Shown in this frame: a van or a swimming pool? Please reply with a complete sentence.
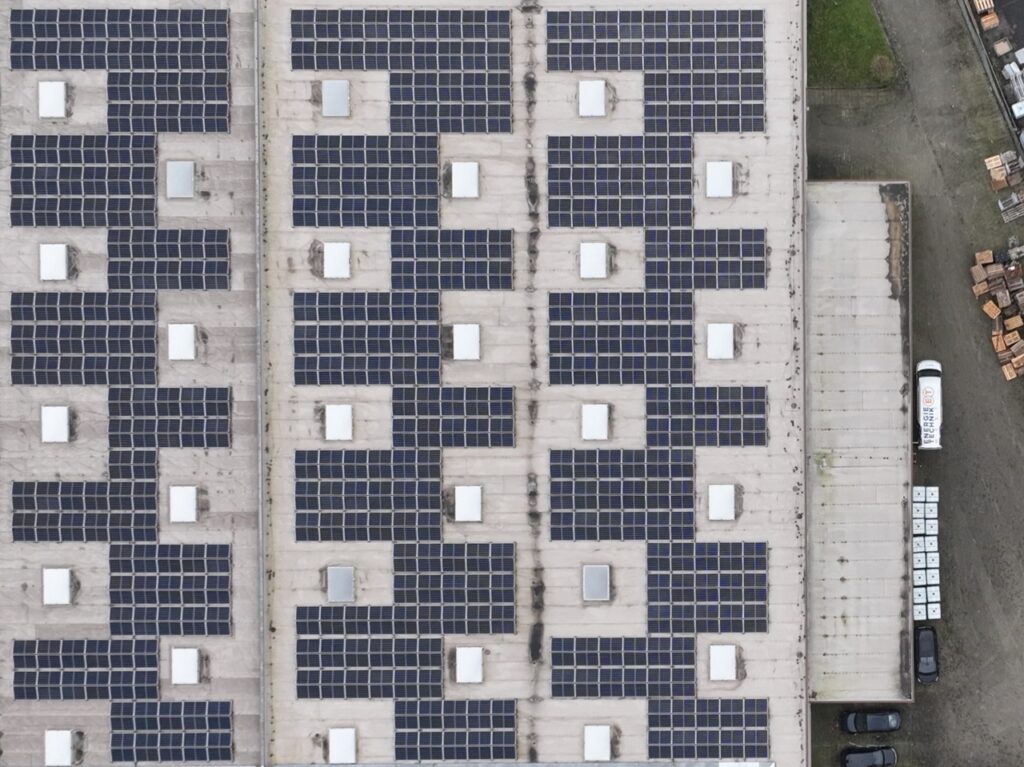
It is a van that can be seen here.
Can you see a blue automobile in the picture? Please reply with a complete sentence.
No, the photo shows no blue automobile.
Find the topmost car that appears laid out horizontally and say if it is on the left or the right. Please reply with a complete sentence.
The topmost car that appears laid out horizontally sits on the right side.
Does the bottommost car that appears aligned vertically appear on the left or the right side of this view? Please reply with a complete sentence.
The bottommost car that appears aligned vertically is on the right side of the image.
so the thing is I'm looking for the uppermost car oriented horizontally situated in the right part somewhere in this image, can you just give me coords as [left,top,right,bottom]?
[841,709,902,736]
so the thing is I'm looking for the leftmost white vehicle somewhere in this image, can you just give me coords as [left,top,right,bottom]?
[914,359,944,451]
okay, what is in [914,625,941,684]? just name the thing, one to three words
car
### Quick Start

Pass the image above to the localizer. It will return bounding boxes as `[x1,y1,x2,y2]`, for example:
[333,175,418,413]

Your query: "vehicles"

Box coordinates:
[914,625,941,684]
[841,709,902,736]
[841,745,898,767]
[914,359,944,451]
